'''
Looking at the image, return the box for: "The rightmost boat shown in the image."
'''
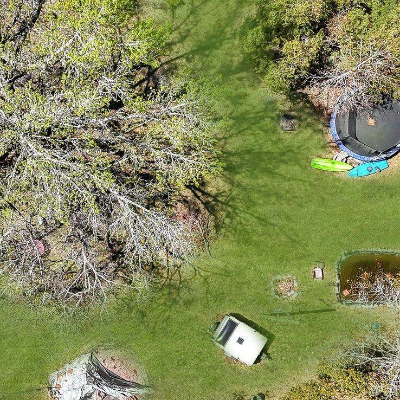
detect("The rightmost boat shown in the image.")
[346,159,389,177]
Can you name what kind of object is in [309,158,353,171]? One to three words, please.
boat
